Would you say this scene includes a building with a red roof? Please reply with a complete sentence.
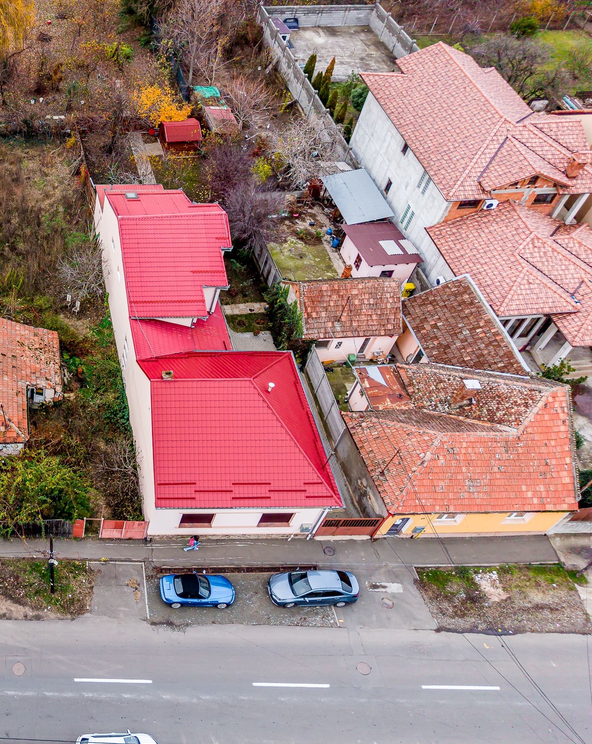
Yes, there is a building with a red roof in the image.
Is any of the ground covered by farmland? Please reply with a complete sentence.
No, there's no farmland in this view.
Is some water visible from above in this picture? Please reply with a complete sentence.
No, water can't be seen anywhere here.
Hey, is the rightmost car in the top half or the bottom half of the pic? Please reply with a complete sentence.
Seen from above, the rightmost car lies in the bottom half of the view.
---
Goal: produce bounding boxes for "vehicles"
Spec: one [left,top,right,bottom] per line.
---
[263,560,363,604]
[73,729,163,744]
[156,565,236,608]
